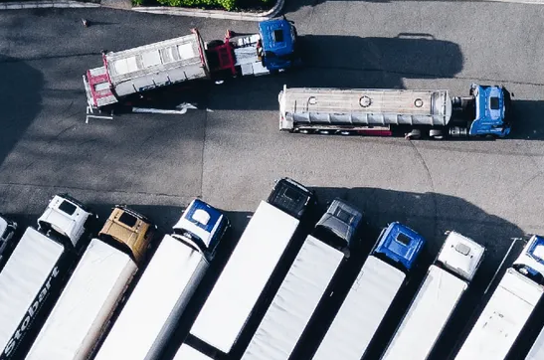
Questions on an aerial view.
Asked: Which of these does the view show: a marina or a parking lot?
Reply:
parking lot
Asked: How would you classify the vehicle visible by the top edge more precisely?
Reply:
truck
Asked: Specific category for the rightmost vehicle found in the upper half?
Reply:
truck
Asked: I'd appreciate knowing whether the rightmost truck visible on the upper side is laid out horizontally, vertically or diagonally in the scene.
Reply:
horizontally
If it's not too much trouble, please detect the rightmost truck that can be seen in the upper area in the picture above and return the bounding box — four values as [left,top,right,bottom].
[275,80,508,143]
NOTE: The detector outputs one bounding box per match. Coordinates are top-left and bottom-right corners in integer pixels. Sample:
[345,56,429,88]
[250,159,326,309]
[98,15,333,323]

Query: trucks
[25,202,160,360]
[174,172,323,360]
[96,194,235,360]
[78,15,306,128]
[0,190,97,360]
[0,215,26,275]
[275,80,508,143]
[455,231,544,360]
[240,193,374,360]
[312,217,433,360]
[378,229,493,360]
